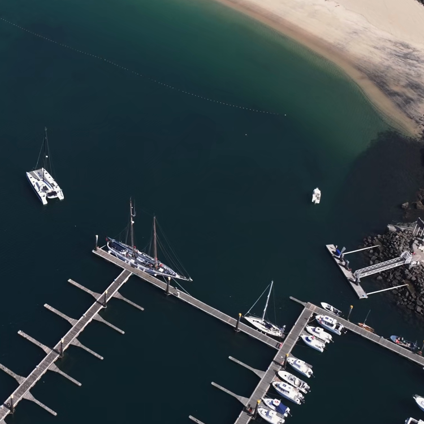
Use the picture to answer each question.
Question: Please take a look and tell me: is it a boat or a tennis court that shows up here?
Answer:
boat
